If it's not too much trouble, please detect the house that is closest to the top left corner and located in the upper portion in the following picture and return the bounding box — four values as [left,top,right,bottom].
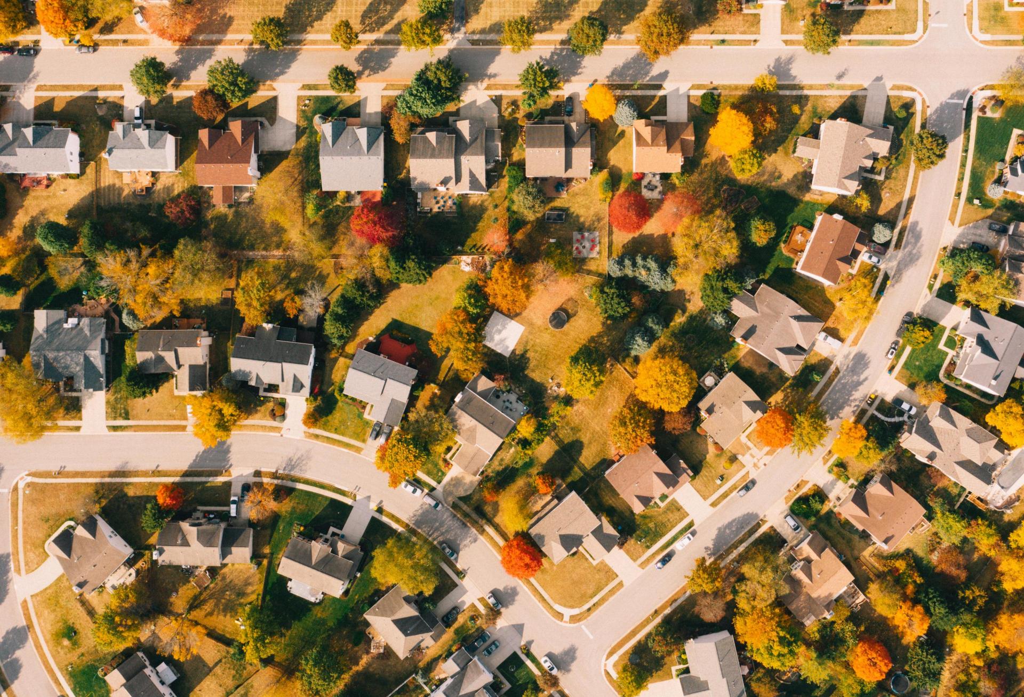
[0,120,78,174]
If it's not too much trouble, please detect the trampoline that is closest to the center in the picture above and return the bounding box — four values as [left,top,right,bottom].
[549,310,567,328]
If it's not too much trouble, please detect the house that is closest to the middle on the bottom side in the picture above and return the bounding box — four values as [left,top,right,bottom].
[444,372,515,477]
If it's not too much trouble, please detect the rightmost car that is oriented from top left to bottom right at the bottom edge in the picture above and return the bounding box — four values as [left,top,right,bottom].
[540,655,556,674]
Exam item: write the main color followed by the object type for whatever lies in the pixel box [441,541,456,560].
gray car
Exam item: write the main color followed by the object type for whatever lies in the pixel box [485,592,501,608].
white car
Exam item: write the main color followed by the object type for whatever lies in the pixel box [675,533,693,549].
white car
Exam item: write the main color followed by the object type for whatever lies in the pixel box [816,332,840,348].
white vehicle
